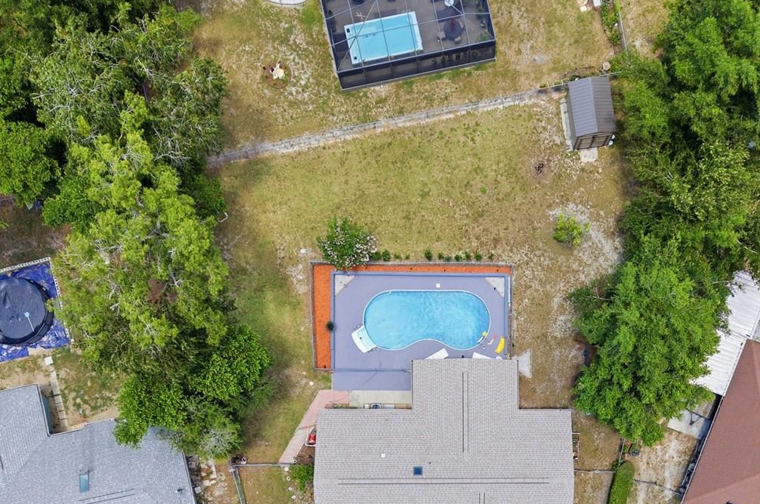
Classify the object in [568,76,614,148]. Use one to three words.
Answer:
shed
